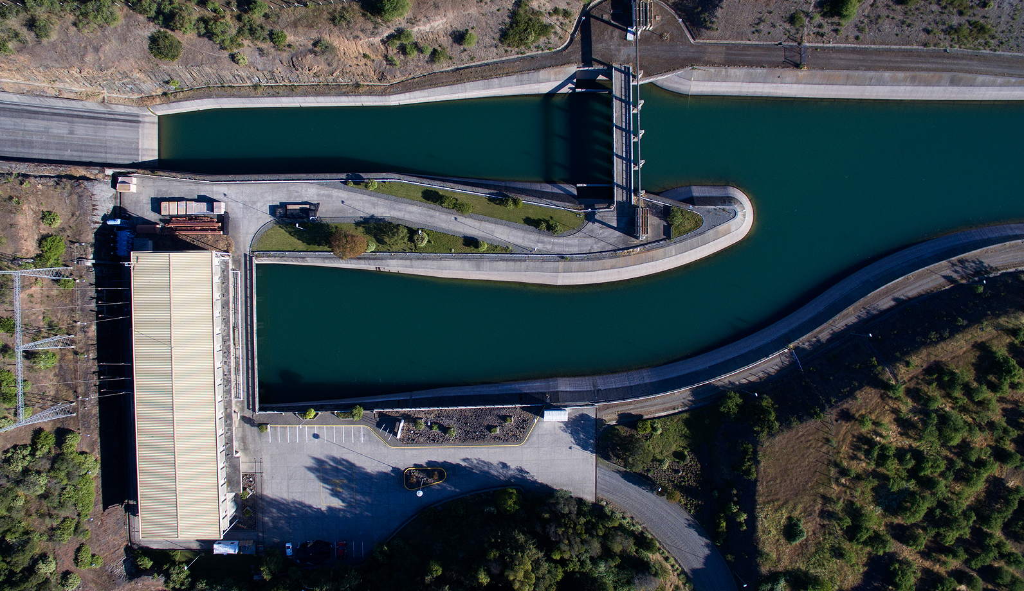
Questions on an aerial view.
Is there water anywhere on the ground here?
Yes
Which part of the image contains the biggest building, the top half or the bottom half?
bottom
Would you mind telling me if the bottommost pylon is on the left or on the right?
left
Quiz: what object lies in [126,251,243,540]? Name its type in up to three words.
building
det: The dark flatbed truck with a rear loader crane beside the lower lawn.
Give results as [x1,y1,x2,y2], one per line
[273,202,318,220]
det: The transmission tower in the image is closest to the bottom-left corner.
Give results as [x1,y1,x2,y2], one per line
[0,401,82,429]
